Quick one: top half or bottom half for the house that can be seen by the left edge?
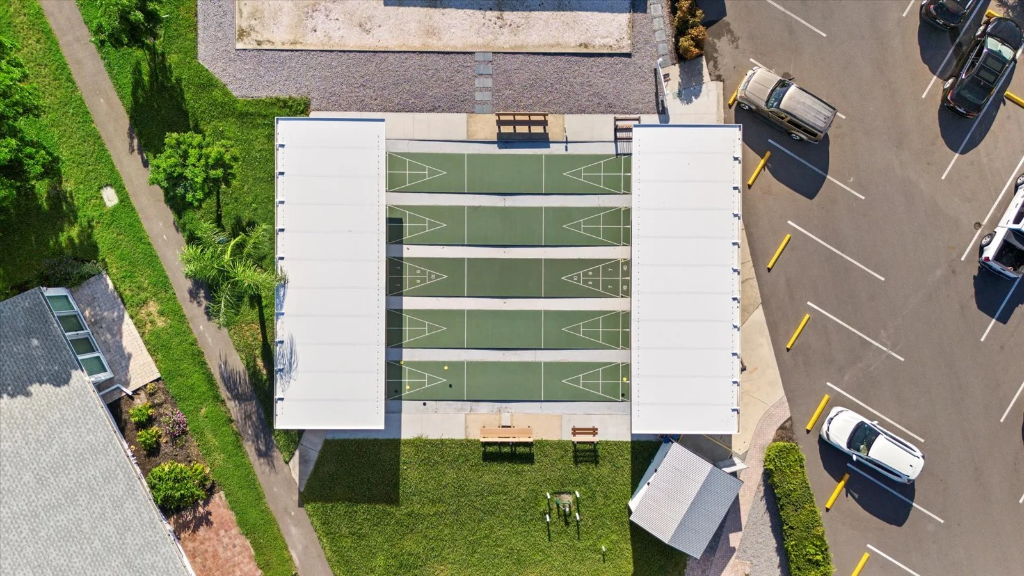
bottom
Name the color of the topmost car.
black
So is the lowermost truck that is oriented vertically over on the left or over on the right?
right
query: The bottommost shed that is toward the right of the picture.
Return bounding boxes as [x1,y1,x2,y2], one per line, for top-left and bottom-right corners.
[625,436,742,555]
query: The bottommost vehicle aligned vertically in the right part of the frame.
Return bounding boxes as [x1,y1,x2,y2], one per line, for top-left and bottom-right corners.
[976,181,1024,287]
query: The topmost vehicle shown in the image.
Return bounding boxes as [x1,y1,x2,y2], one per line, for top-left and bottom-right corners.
[923,0,977,35]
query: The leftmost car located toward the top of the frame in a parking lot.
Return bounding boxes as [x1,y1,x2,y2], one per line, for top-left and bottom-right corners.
[730,66,841,145]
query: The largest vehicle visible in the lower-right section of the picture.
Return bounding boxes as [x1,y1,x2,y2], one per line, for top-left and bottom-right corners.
[818,407,924,483]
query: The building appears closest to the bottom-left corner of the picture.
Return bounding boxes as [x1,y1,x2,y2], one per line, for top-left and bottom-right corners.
[0,286,199,576]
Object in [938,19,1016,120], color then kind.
black car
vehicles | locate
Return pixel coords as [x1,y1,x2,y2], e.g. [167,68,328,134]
[923,0,977,35]
[730,66,841,145]
[976,181,1024,287]
[938,19,1016,120]
[818,407,924,483]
